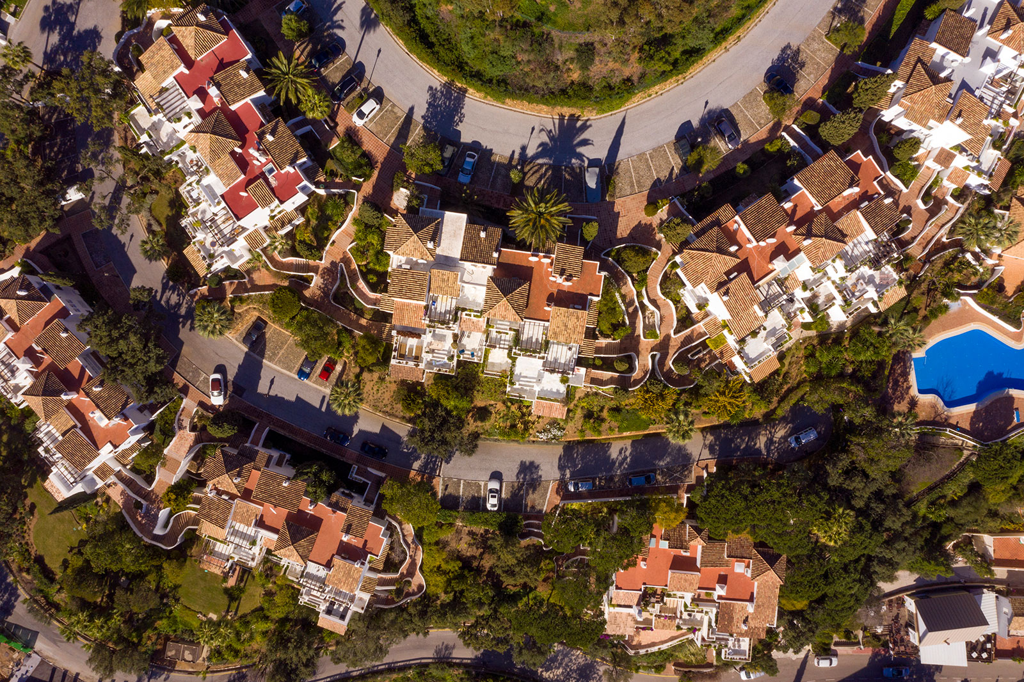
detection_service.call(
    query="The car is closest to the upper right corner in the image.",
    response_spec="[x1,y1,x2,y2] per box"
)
[761,68,794,95]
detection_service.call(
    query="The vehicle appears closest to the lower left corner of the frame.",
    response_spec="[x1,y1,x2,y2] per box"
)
[209,373,226,405]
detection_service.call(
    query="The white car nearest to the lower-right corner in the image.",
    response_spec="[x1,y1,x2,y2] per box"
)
[811,654,839,669]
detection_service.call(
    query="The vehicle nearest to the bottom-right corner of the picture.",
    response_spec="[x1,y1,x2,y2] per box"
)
[879,664,909,680]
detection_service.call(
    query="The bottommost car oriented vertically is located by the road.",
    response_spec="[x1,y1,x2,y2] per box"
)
[486,478,501,510]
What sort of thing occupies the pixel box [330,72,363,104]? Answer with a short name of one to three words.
car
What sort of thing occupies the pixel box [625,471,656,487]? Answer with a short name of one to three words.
car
